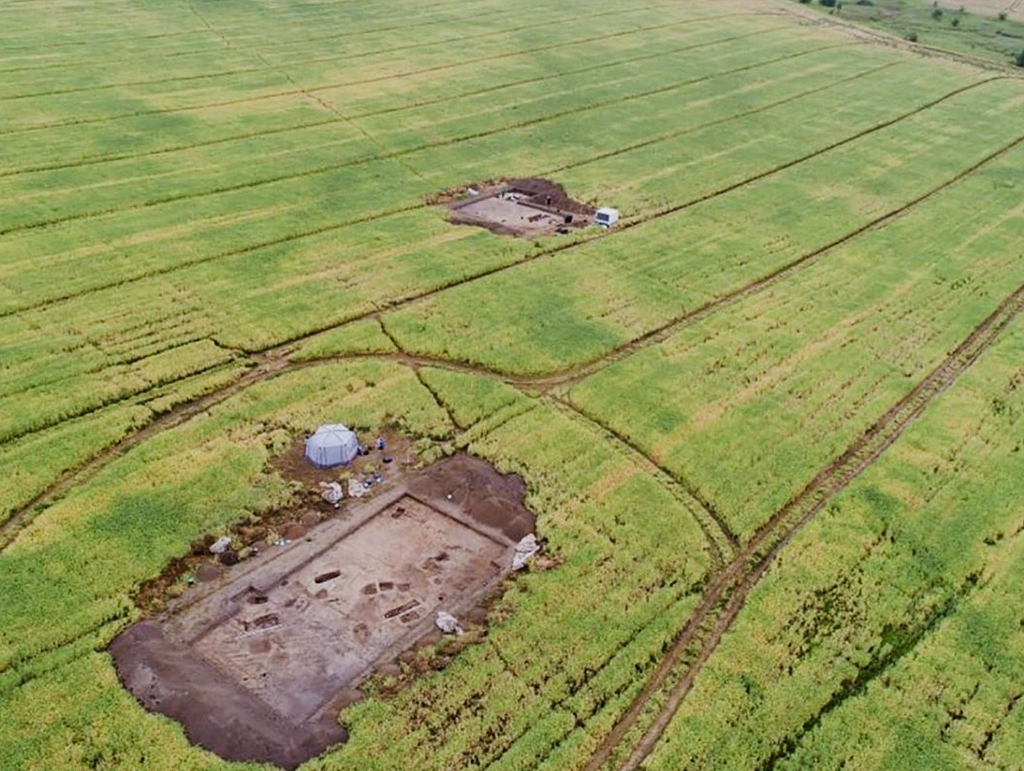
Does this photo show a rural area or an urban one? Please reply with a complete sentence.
This place is rural.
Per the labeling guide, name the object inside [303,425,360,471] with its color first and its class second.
white tent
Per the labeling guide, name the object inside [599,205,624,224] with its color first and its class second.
white camper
